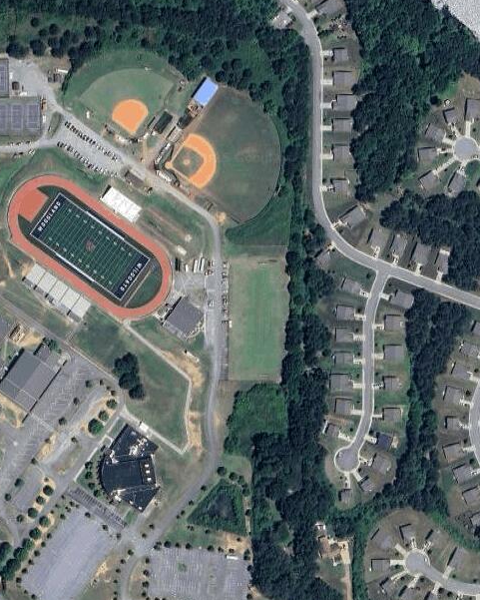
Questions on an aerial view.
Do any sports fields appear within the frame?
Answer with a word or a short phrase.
Yes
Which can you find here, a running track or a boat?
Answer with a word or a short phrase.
running track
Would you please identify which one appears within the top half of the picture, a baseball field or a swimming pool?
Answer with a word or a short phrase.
baseball field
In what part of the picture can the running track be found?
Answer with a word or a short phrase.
left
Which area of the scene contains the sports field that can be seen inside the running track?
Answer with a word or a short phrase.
left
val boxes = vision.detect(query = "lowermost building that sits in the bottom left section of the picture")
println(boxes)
[99,425,158,513]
